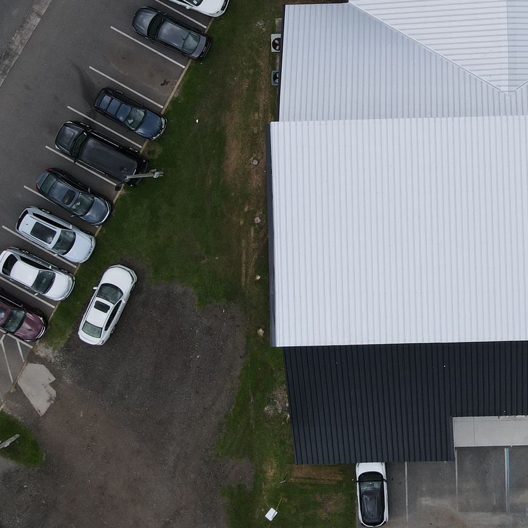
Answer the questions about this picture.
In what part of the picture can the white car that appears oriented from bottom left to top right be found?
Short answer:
left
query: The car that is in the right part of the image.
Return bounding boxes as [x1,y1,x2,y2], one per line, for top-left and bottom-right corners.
[352,463,388,528]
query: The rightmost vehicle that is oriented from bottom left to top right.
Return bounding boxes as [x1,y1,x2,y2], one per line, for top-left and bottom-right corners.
[73,268,134,348]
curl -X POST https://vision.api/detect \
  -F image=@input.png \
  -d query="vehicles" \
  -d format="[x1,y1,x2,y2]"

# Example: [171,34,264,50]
[6,207,90,265]
[172,0,226,18]
[129,3,208,61]
[73,268,134,348]
[26,169,109,226]
[352,463,388,528]
[0,295,42,342]
[0,246,69,304]
[46,121,144,188]
[82,85,164,141]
